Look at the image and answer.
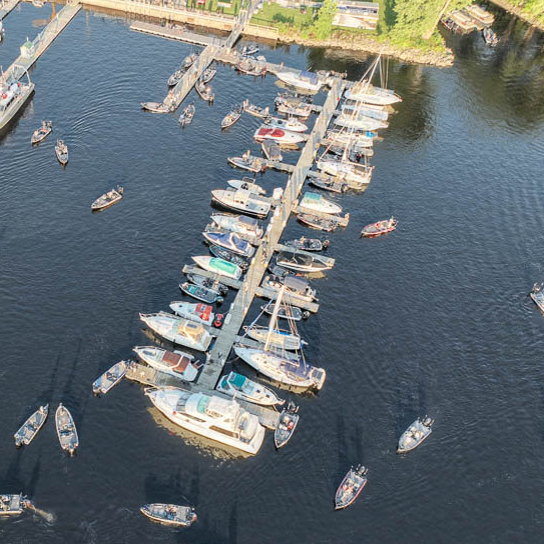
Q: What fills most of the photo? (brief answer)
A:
water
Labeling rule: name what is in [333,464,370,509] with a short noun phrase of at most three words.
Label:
boat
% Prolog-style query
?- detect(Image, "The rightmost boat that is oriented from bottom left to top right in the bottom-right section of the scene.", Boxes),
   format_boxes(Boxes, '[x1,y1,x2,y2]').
[395,414,431,454]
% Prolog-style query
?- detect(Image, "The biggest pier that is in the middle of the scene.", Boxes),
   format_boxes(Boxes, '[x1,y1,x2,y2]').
[157,78,372,381]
